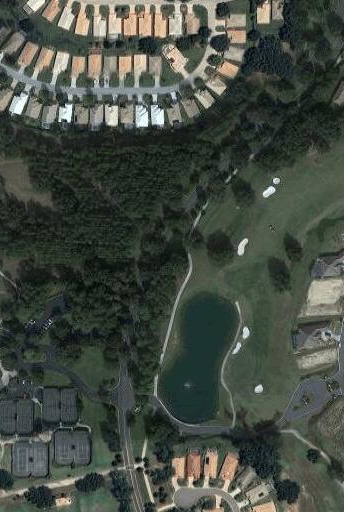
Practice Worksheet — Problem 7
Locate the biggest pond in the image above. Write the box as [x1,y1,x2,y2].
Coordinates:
[158,289,236,424]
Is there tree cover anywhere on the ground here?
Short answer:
Yes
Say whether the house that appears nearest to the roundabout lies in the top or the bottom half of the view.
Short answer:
bottom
